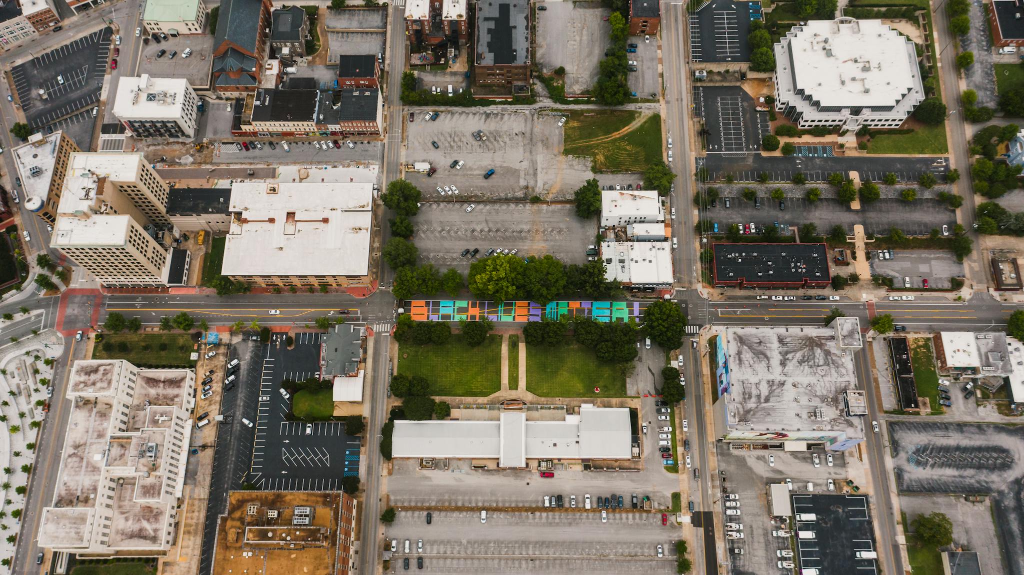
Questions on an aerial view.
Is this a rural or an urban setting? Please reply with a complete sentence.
This place is urban.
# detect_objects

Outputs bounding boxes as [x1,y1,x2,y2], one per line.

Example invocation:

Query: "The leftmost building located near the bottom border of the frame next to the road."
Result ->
[38,361,196,559]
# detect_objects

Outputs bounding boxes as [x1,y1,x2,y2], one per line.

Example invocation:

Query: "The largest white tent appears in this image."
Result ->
[334,370,366,403]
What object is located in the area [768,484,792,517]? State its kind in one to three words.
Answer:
shed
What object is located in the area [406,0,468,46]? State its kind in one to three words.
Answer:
house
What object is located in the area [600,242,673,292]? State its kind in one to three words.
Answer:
building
